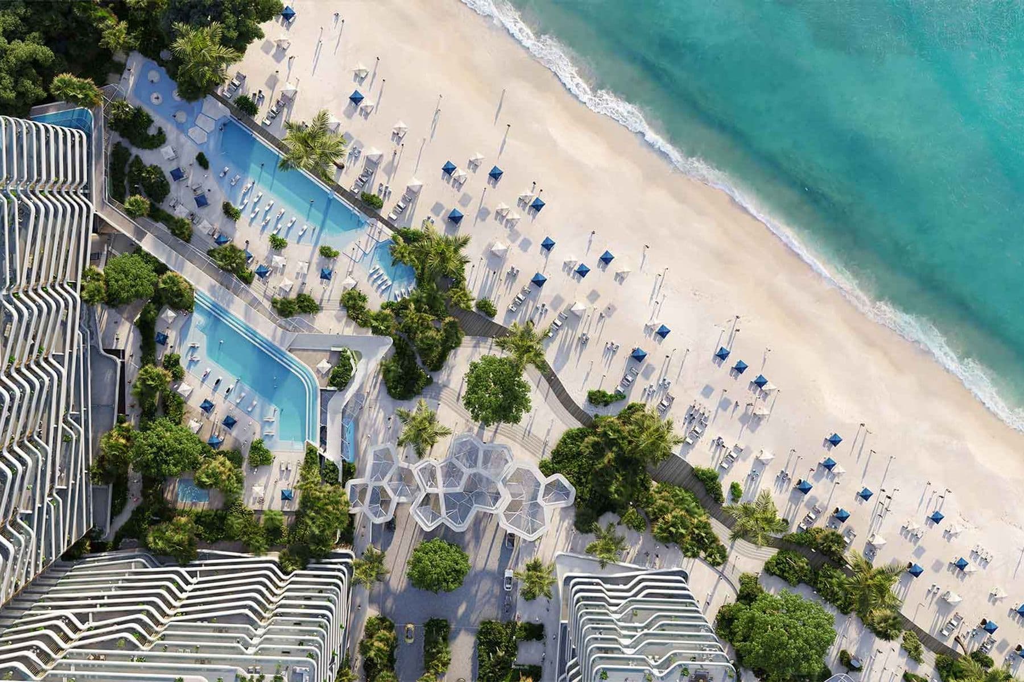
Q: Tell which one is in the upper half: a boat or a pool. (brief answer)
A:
pool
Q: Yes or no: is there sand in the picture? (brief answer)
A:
Yes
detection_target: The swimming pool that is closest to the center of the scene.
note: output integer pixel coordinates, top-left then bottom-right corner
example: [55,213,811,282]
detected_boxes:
[342,232,416,298]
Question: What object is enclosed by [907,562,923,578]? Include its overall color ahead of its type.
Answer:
blue umbrella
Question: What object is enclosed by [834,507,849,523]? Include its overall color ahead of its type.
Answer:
blue umbrella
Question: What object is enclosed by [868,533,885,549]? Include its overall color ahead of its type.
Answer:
white umbrella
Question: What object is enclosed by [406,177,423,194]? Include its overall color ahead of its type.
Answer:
white umbrella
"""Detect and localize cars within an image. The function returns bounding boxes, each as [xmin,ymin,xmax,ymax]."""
[505,530,515,551]
[405,623,415,643]
[503,570,514,591]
